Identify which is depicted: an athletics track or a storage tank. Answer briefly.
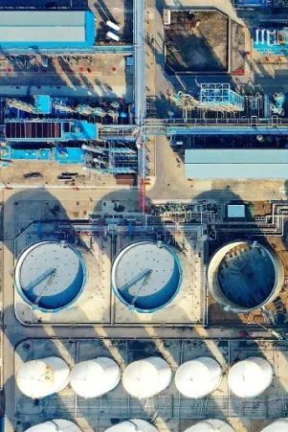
storage tank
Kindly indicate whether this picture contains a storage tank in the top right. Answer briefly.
No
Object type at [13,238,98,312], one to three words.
storage tank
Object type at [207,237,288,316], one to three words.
storage tank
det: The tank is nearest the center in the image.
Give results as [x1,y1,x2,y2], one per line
[109,238,193,313]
